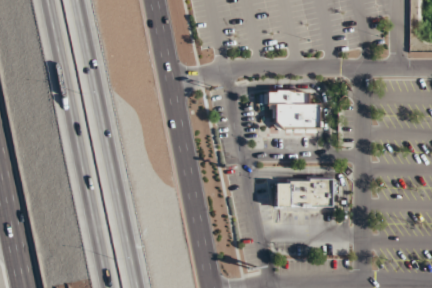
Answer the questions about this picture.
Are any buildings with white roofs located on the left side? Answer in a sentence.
No, I see no building with a white roof on the left side.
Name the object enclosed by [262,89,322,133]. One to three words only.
building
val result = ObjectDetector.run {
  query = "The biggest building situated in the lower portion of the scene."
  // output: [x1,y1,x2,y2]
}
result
[278,179,334,209]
